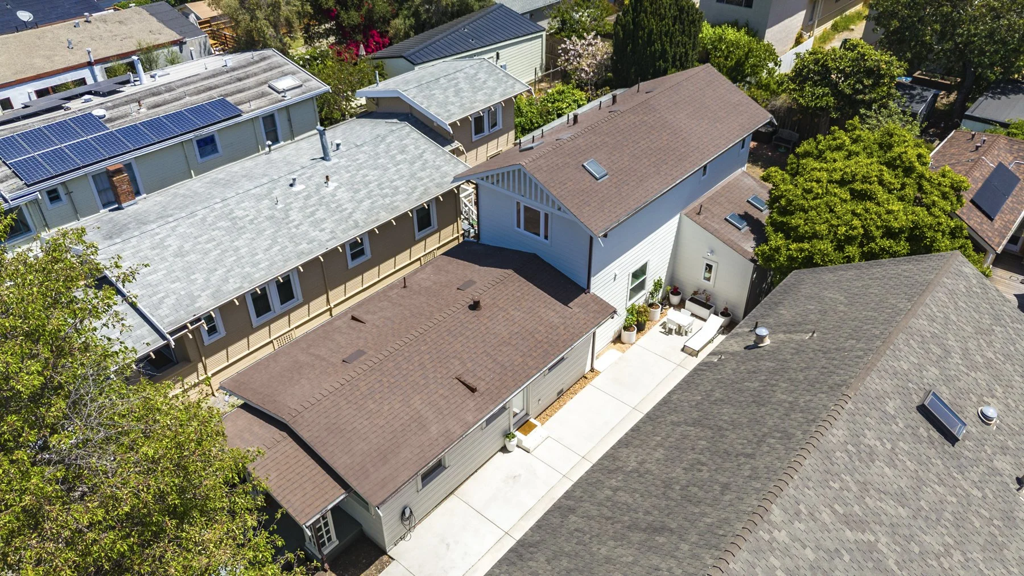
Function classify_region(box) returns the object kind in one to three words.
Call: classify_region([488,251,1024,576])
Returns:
house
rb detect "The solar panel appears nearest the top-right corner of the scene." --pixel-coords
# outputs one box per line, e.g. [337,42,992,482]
[967,162,1023,221]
